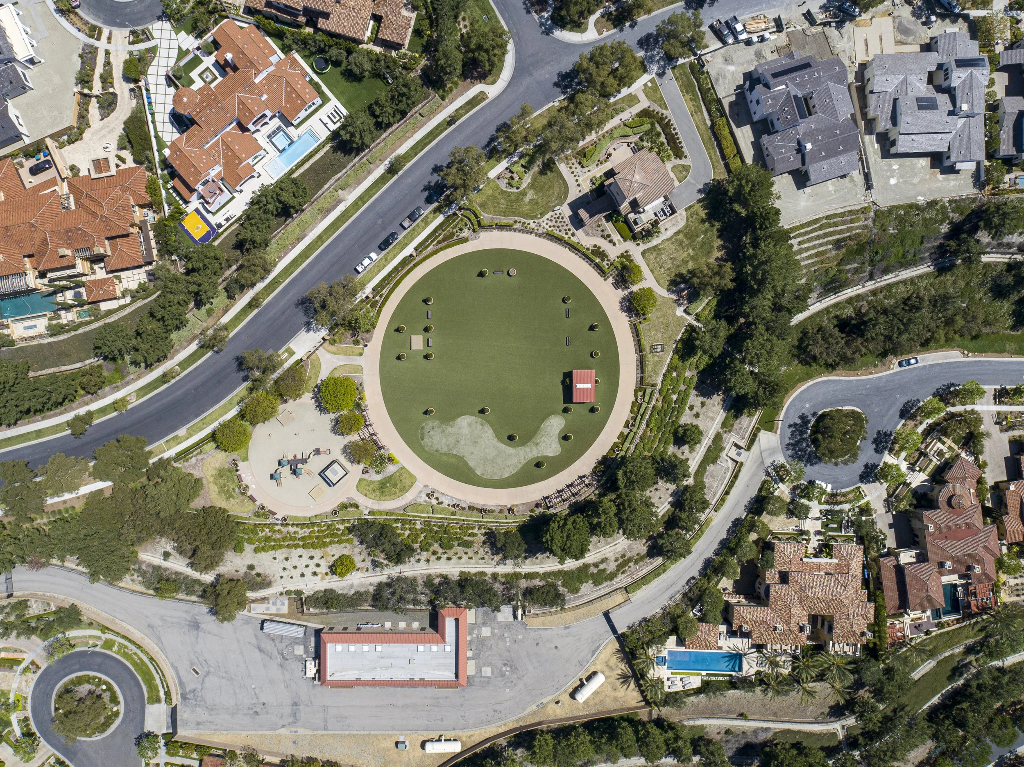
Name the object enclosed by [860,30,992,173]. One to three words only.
house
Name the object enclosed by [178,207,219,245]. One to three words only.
basketball court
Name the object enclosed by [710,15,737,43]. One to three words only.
truck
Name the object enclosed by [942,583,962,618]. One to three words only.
swimming pool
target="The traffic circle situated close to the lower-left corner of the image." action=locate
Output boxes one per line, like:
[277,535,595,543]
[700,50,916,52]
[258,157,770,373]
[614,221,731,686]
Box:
[50,671,124,741]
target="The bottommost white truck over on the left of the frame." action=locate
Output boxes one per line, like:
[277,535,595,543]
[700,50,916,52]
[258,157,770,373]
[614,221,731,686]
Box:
[353,250,378,273]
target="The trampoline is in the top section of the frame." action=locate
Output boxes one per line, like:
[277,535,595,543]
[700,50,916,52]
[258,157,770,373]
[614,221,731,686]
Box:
[310,51,331,71]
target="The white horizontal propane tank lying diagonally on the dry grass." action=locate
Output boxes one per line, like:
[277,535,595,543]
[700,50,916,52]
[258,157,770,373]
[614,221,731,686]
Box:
[573,670,608,706]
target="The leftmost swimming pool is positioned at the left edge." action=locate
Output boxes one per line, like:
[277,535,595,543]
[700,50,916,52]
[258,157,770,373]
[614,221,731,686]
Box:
[0,289,57,320]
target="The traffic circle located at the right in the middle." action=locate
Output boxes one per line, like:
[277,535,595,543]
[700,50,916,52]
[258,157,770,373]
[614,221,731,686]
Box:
[809,405,868,463]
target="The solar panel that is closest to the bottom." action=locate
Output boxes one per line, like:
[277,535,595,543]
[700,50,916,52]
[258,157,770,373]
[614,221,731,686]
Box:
[916,97,938,109]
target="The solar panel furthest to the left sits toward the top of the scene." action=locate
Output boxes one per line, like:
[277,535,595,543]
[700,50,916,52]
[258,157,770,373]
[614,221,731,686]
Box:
[771,62,812,77]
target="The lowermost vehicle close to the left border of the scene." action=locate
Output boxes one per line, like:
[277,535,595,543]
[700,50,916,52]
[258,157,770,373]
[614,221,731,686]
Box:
[25,156,52,174]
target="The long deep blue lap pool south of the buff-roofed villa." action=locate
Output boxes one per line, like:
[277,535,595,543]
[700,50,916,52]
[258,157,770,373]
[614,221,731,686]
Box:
[666,650,744,674]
